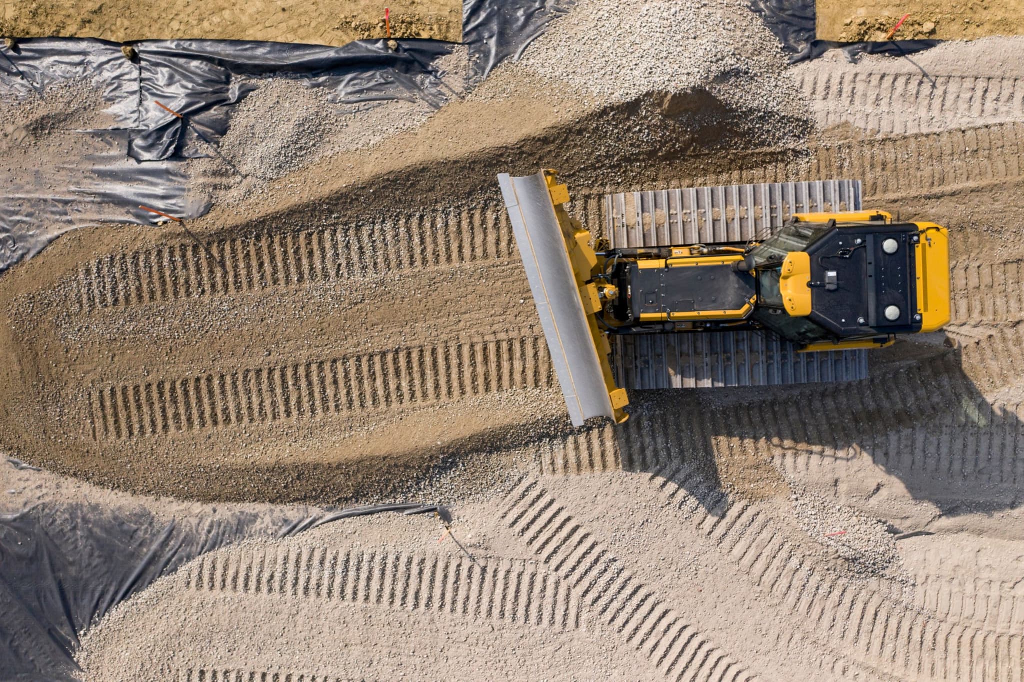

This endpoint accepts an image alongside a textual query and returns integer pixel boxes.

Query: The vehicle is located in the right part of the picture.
[498,168,949,427]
